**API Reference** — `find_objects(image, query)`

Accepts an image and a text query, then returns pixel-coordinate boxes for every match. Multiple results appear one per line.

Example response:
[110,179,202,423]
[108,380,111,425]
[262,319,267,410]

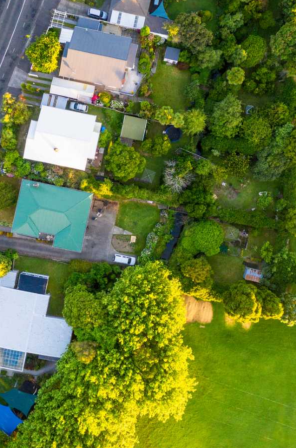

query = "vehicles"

[86,9,108,20]
[113,254,136,265]
[67,101,90,112]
